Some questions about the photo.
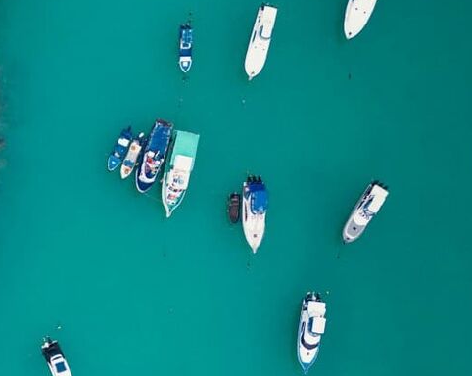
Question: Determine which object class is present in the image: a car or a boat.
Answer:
boat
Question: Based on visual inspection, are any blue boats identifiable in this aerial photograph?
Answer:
Yes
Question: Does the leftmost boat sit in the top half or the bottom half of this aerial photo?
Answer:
bottom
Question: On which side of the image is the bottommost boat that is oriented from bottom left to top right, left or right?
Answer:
right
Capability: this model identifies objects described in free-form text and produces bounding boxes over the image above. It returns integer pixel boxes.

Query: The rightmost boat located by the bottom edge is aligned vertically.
[298,295,327,376]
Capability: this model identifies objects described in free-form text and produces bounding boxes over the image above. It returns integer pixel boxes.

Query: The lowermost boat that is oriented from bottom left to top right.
[342,180,393,244]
